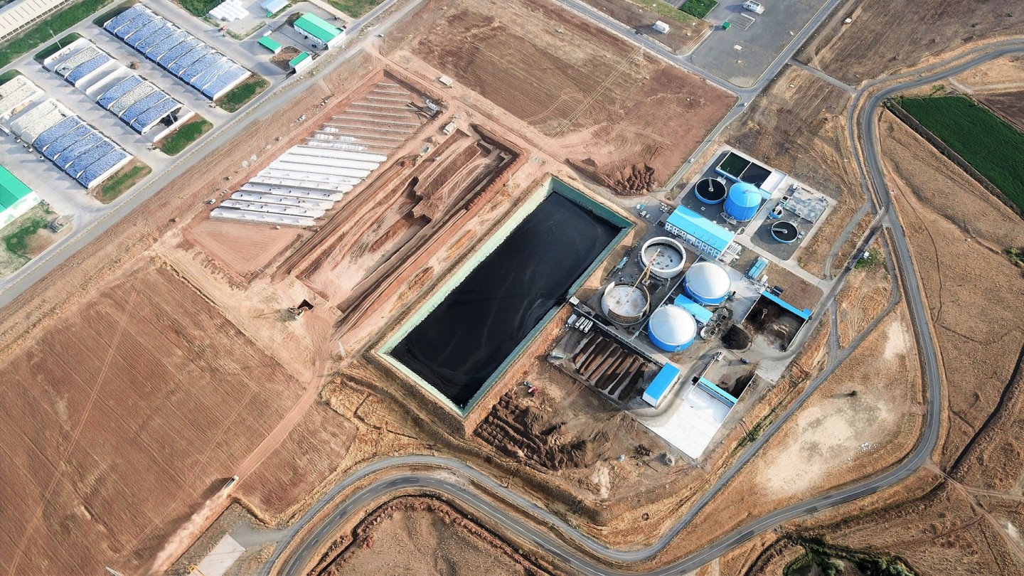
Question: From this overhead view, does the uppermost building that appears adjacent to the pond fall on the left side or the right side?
right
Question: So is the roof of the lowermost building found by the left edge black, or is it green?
green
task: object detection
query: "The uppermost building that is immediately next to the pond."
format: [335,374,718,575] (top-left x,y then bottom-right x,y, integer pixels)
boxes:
[664,205,735,258]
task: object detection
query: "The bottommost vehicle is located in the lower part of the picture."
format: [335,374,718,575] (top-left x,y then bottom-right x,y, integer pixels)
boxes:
[220,475,237,492]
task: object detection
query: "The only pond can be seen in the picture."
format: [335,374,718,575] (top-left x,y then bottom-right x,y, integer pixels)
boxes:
[377,176,635,418]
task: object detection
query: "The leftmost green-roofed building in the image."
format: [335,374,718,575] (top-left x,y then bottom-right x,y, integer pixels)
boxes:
[0,158,37,220]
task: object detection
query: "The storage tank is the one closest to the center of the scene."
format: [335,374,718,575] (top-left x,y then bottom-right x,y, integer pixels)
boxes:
[603,285,649,324]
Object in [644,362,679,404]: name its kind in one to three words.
building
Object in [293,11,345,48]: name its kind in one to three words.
barn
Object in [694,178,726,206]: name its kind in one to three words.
storage tank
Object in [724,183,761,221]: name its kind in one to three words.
storage tank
